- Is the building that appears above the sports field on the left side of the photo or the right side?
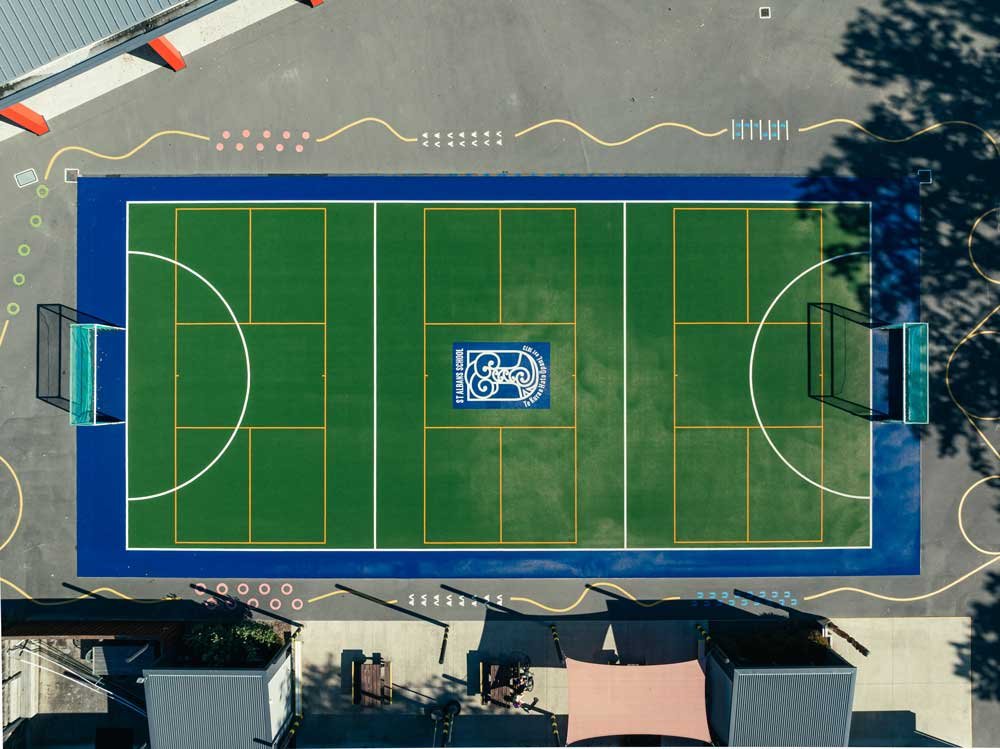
left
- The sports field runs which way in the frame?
from side to side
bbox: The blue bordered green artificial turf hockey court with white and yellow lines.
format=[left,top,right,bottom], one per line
[76,177,920,576]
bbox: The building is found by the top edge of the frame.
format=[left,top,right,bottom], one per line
[0,0,243,135]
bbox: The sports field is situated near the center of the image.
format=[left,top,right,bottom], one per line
[128,203,871,548]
